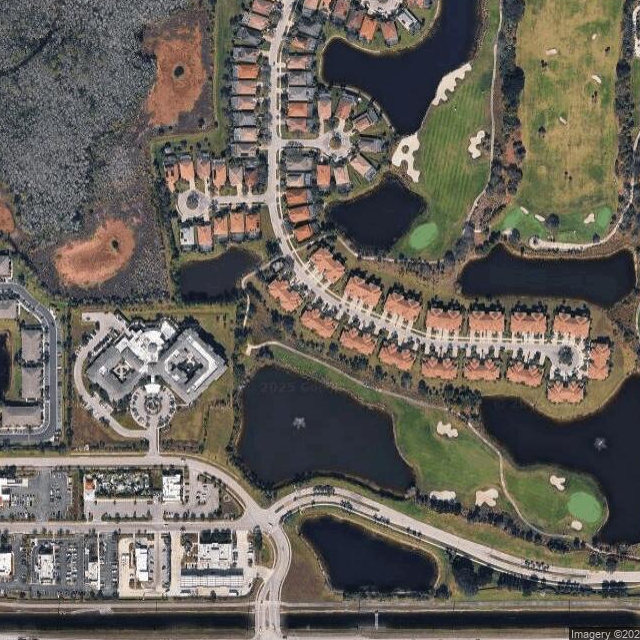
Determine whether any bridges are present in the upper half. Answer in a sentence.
No, I see no bridge in the upper half.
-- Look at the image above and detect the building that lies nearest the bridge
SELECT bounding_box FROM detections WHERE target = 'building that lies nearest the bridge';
[198,544,233,569]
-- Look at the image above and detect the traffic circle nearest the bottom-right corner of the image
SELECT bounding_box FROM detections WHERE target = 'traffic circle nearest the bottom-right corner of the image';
[548,334,583,369]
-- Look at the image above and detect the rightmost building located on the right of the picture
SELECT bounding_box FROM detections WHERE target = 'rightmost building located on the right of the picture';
[588,343,612,379]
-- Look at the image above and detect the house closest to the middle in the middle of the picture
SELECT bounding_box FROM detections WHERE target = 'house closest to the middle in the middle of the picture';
[301,307,338,338]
